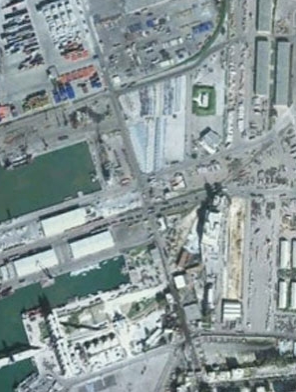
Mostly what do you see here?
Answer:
paved ground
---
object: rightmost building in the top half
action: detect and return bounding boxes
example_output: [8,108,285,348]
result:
[277,42,294,105]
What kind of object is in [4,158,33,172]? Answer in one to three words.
ship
